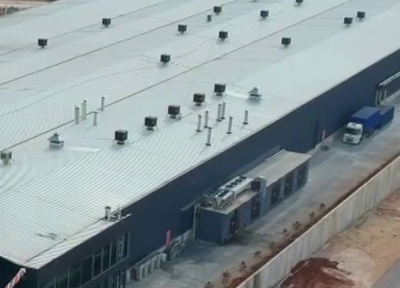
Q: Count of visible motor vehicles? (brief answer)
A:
1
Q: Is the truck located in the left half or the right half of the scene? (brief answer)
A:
right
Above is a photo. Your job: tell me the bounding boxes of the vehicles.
[345,100,397,141]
